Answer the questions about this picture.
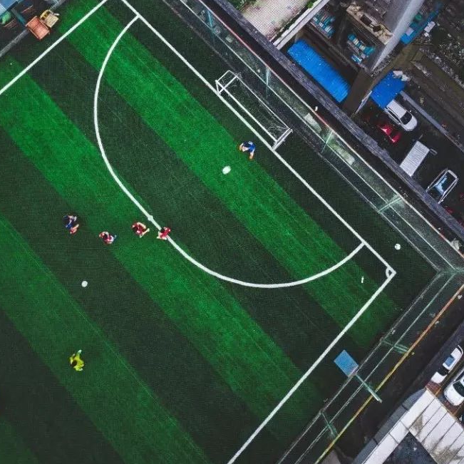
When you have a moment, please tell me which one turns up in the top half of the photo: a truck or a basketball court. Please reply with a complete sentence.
The one visible in the top half of the photo is a truck.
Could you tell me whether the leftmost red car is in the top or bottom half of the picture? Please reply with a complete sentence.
You can find the leftmost red car in the top half.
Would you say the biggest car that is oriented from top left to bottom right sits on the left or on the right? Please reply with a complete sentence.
The biggest car that is oriented from top left to bottom right is on the right side of the image.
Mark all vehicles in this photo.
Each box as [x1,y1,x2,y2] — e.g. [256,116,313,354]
[444,366,464,406]
[429,343,464,384]
[426,169,458,200]
[373,122,399,146]
[401,137,433,176]
[384,102,417,134]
